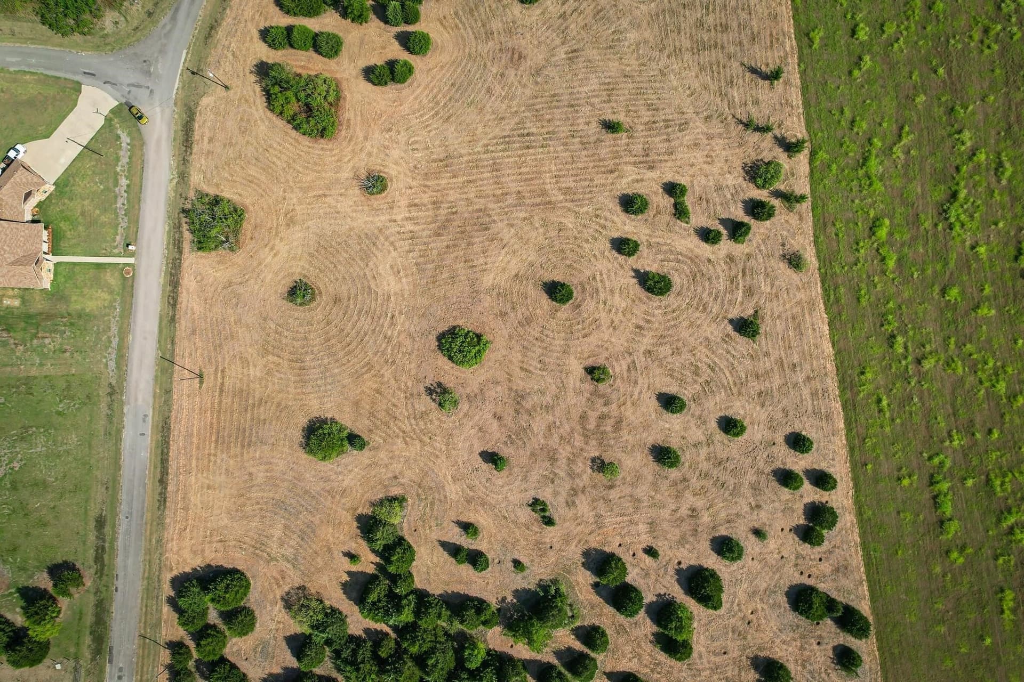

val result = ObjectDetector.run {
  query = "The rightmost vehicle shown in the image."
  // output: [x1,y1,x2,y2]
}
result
[127,102,150,126]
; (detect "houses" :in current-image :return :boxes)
[0,157,57,289]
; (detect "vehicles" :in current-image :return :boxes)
[0,144,30,174]
[127,102,150,126]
